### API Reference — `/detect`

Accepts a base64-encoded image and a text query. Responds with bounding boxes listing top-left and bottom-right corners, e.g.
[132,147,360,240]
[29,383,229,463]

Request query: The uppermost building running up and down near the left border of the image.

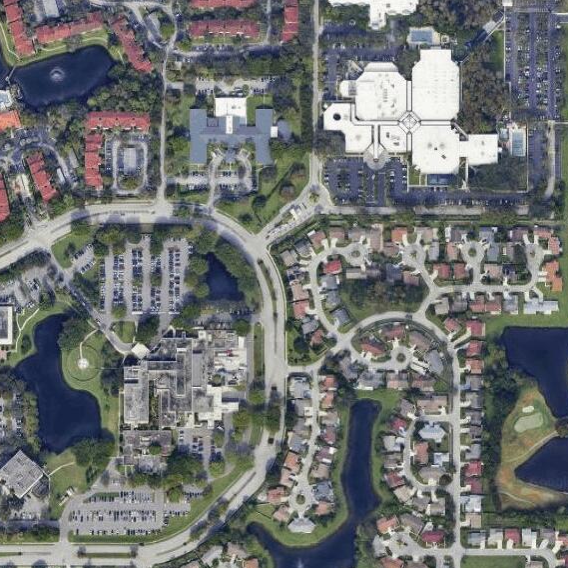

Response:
[3,0,32,56]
